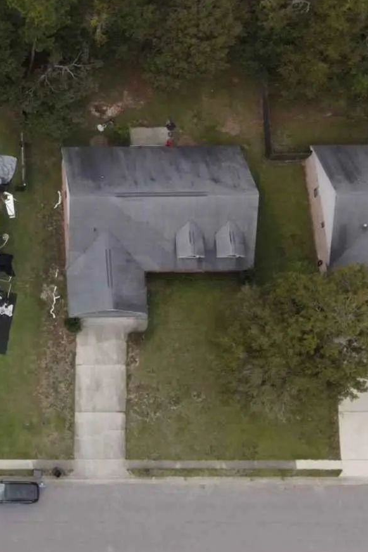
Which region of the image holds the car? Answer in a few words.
bottom left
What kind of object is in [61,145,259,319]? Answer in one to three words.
house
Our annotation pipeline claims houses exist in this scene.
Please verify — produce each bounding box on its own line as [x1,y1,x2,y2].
[61,145,259,319]
[300,145,368,316]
